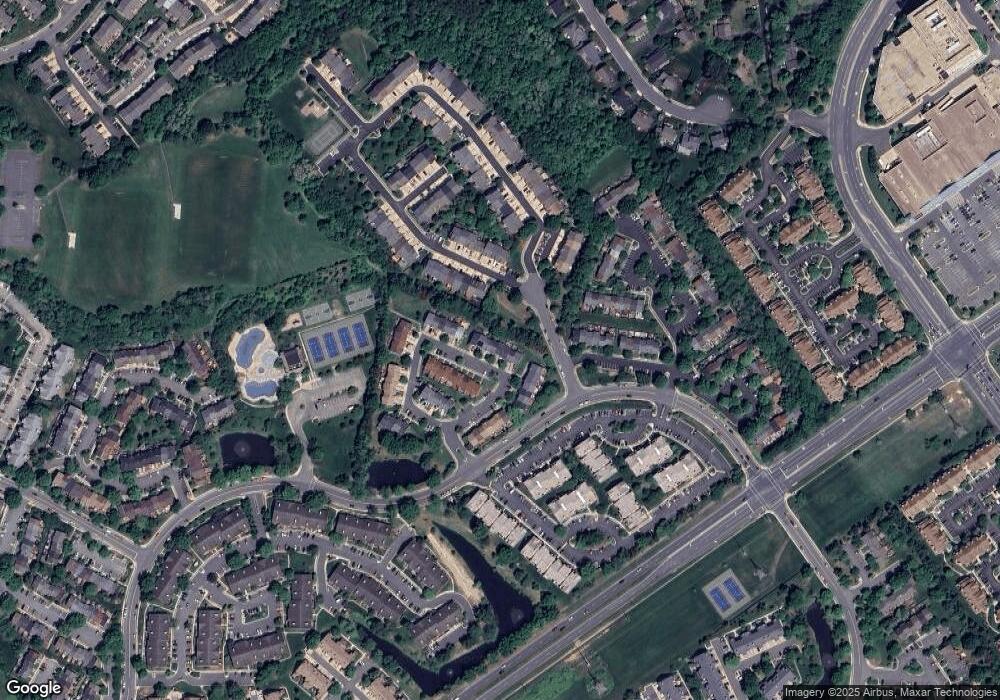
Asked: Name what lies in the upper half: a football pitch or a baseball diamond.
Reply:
football pitch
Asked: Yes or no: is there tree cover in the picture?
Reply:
Yes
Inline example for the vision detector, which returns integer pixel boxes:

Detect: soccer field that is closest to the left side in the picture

[79,191,165,299]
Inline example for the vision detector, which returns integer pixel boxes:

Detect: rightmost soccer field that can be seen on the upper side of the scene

[182,150,254,287]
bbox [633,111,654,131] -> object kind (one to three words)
house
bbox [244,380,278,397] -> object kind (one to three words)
swimming pool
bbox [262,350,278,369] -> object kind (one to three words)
swimming pool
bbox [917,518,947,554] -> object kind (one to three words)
building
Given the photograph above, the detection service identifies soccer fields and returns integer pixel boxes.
[182,150,254,287]
[79,191,165,299]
